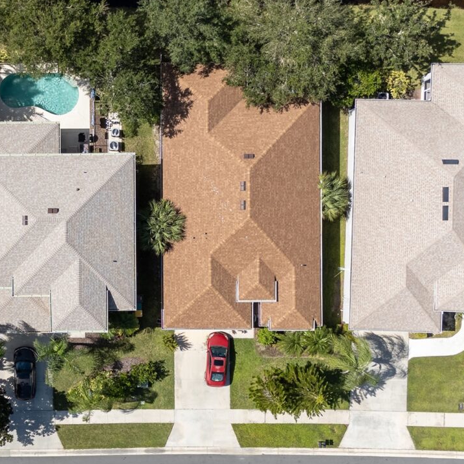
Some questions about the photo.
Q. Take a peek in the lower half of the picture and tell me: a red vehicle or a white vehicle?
red vehicle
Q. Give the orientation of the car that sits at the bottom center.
up and down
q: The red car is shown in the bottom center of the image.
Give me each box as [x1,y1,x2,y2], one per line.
[204,332,233,387]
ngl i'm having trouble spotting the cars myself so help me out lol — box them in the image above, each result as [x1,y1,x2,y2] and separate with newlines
[11,346,39,400]
[204,332,233,387]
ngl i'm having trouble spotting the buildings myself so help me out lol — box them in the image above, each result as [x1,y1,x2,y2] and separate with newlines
[340,62,464,333]
[0,120,137,334]
[161,62,323,332]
